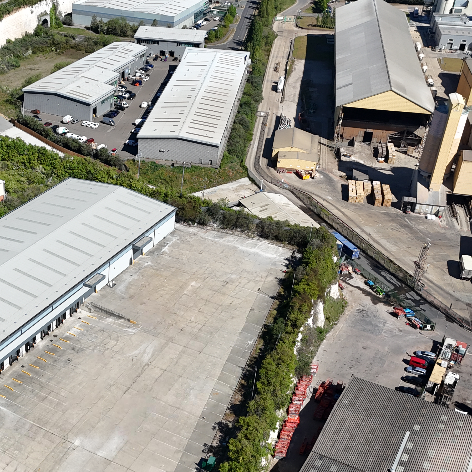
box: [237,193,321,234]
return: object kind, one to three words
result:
shed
